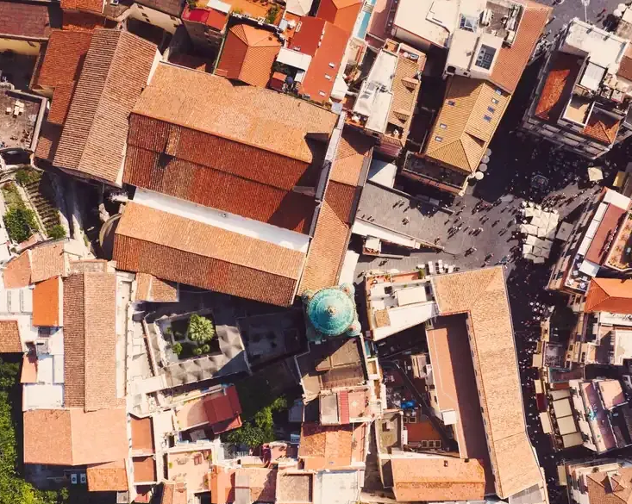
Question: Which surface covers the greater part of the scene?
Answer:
buildings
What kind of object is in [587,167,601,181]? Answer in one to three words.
umbrella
